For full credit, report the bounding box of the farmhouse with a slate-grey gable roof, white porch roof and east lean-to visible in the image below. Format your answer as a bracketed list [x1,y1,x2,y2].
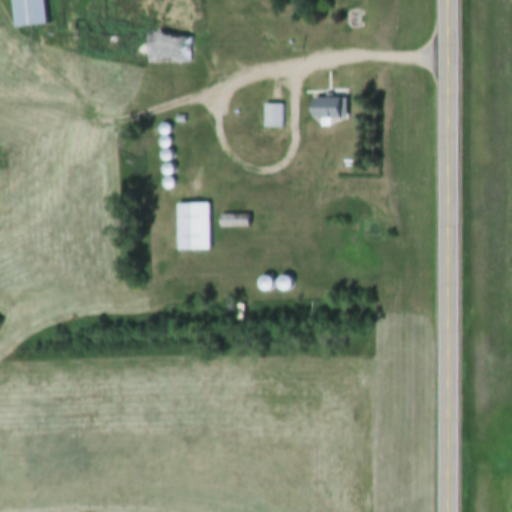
[310,92,348,127]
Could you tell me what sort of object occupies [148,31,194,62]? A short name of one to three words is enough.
barn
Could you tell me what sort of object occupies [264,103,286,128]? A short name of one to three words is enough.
shed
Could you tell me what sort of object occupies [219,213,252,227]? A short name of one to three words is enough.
shed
